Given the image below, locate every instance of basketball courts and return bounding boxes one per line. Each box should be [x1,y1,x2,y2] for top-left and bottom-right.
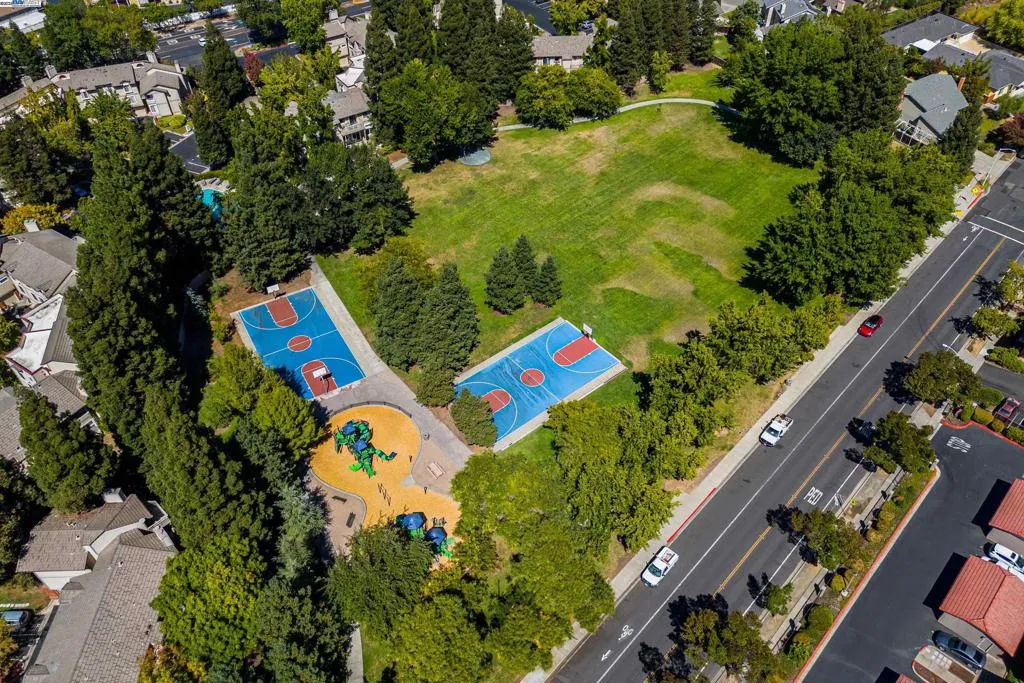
[234,285,366,406]
[441,316,627,447]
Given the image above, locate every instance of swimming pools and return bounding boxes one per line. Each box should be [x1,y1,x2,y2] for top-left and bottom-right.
[193,176,238,240]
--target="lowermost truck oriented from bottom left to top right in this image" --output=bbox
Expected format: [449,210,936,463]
[639,543,682,586]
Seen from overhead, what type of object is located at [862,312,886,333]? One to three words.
car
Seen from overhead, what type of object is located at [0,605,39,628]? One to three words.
car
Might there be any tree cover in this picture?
Yes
